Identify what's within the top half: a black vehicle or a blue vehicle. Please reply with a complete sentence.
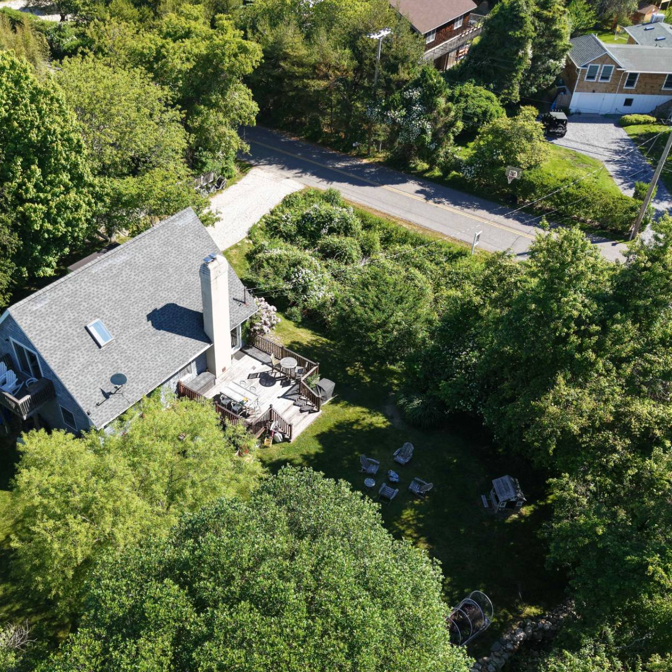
It is a black vehicle that can be seen within the top half.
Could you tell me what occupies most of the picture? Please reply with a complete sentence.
For the most part, this view shows trees.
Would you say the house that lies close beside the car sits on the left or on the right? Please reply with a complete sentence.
The house that lies close beside the car appears in the right half of the scene.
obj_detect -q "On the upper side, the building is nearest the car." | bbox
[560,14,672,116]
